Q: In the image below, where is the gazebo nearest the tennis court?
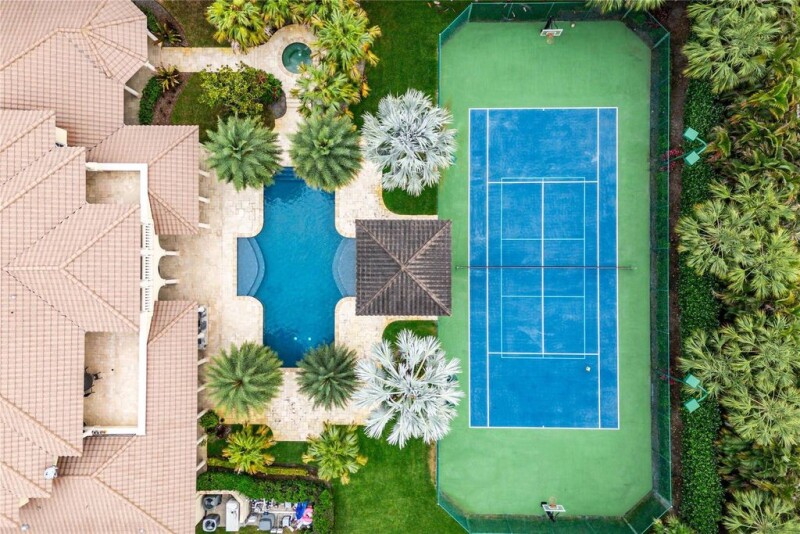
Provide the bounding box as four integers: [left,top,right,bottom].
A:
[354,217,454,317]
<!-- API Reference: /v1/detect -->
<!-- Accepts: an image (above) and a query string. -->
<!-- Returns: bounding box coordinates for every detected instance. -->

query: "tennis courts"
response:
[441,23,652,515]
